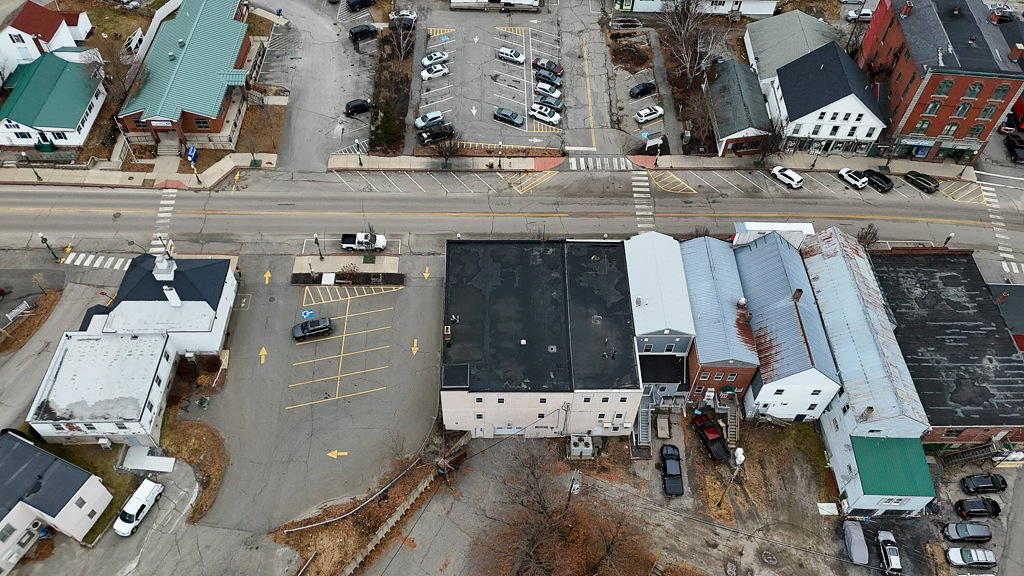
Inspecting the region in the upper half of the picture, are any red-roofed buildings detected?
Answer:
Yes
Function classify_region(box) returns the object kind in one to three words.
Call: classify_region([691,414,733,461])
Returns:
truck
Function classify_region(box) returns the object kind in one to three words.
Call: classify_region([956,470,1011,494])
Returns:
car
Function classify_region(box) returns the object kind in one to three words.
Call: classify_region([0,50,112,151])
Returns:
building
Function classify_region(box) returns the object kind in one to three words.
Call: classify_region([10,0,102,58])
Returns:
house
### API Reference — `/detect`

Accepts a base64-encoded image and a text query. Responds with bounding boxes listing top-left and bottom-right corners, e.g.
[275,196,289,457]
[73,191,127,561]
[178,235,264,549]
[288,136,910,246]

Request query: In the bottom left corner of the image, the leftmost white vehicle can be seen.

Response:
[111,477,167,534]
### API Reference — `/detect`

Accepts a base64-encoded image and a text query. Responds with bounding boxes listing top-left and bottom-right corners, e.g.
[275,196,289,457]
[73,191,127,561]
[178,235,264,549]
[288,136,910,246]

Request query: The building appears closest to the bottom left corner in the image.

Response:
[0,430,114,572]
